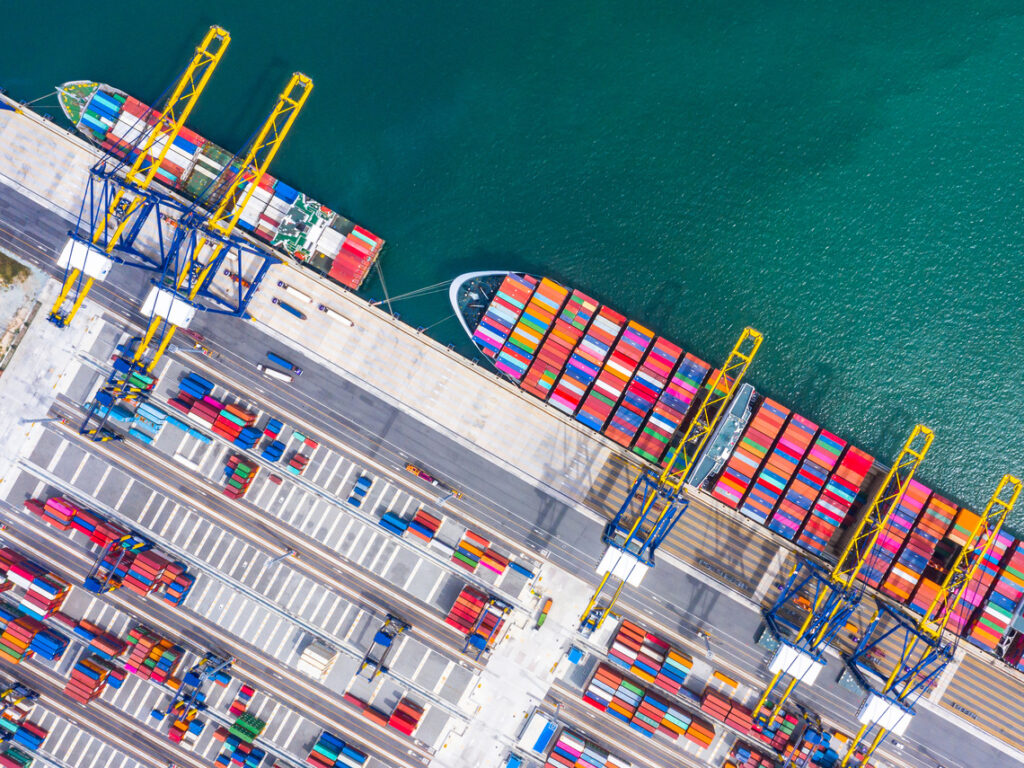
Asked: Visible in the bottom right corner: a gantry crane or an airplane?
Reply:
gantry crane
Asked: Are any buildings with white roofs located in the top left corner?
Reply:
No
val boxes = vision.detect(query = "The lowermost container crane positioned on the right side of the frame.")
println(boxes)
[776,704,829,768]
